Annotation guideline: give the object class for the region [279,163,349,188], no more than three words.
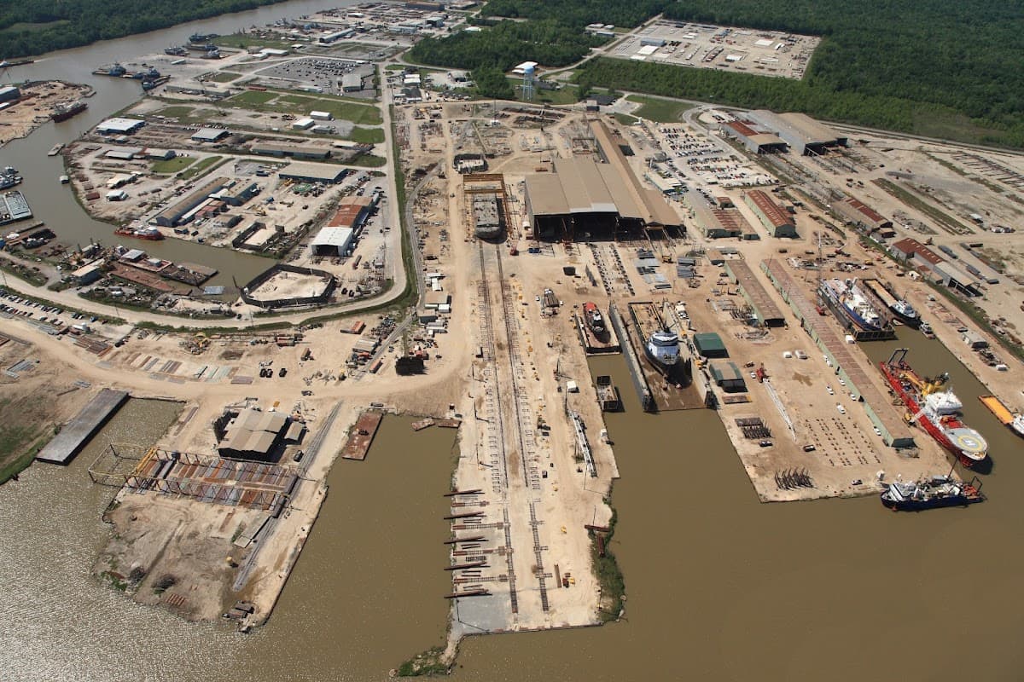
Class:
building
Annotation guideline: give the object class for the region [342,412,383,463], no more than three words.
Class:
ship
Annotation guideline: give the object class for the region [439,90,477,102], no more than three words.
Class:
house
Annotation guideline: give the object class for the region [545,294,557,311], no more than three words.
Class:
vehicle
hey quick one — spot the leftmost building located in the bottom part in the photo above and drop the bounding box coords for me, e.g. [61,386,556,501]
[219,410,289,467]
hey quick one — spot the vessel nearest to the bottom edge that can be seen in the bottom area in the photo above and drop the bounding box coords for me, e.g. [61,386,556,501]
[880,445,992,510]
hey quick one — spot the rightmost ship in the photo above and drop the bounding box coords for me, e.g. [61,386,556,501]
[977,395,1024,456]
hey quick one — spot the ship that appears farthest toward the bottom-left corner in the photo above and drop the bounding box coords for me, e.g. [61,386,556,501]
[34,390,129,467]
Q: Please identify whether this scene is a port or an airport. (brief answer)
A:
port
